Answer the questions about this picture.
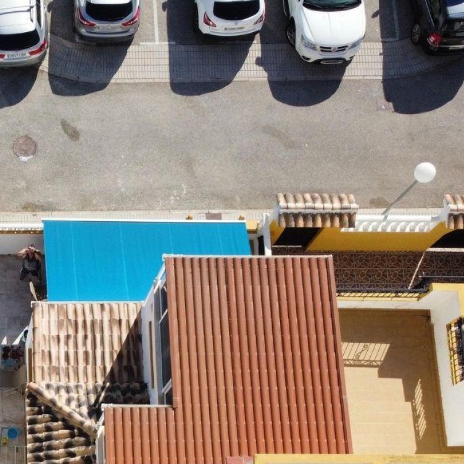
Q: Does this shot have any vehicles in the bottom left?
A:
No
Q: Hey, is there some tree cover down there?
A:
No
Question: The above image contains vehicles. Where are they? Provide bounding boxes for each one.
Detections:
[405,0,464,60]
[73,0,139,45]
[0,0,50,69]
[288,0,373,65]
[193,0,264,39]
